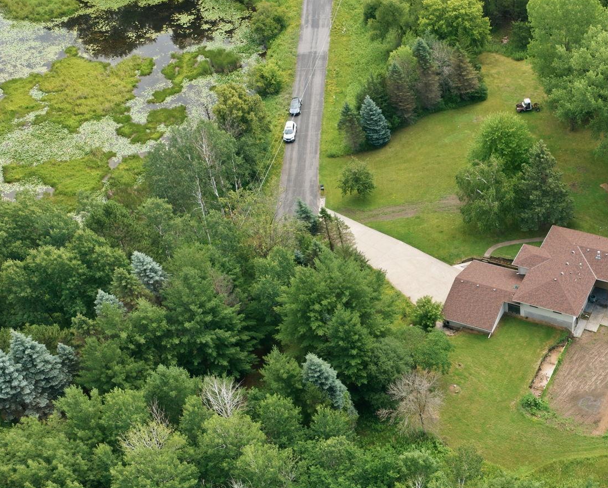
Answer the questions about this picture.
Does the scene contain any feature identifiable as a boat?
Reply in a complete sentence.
No, the scene contains no boat.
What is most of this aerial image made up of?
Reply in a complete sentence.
The scene is dominated by trees.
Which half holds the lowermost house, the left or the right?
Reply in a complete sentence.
It is on the right.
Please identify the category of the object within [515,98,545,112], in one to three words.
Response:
vehicle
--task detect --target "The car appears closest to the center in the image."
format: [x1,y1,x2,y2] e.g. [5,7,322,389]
[281,121,297,141]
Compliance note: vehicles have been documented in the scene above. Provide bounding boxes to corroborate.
[288,96,302,114]
[281,121,297,141]
[515,98,545,112]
